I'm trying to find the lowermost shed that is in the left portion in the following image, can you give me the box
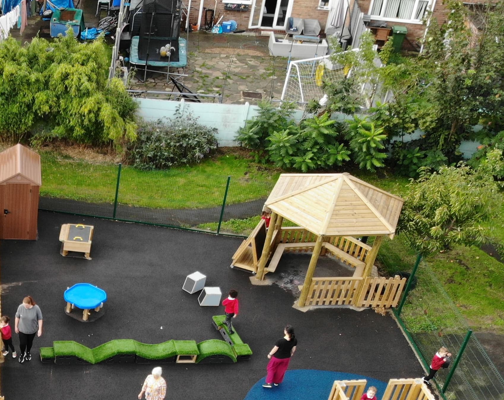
[0,144,43,240]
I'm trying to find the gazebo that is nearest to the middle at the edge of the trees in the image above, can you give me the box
[256,168,405,306]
